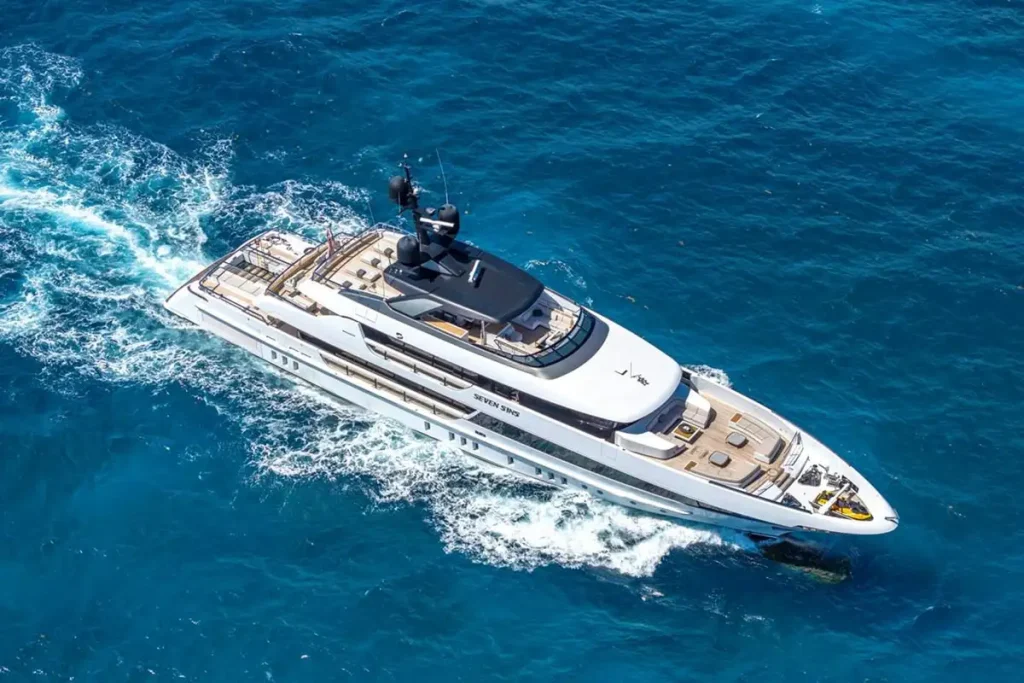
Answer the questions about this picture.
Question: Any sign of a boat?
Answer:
Yes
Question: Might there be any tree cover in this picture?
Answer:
No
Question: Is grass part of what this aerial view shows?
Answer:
No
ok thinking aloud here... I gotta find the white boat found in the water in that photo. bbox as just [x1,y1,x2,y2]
[165,149,902,592]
